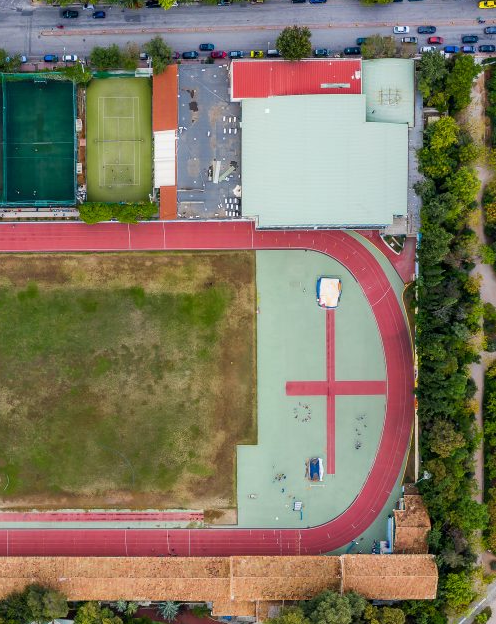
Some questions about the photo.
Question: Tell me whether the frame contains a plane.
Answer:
No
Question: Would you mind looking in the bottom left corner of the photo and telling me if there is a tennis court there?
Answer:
No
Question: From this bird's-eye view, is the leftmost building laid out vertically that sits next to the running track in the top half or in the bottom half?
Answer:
top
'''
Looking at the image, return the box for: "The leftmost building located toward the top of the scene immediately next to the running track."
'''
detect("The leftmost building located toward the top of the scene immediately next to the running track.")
[153,64,177,224]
